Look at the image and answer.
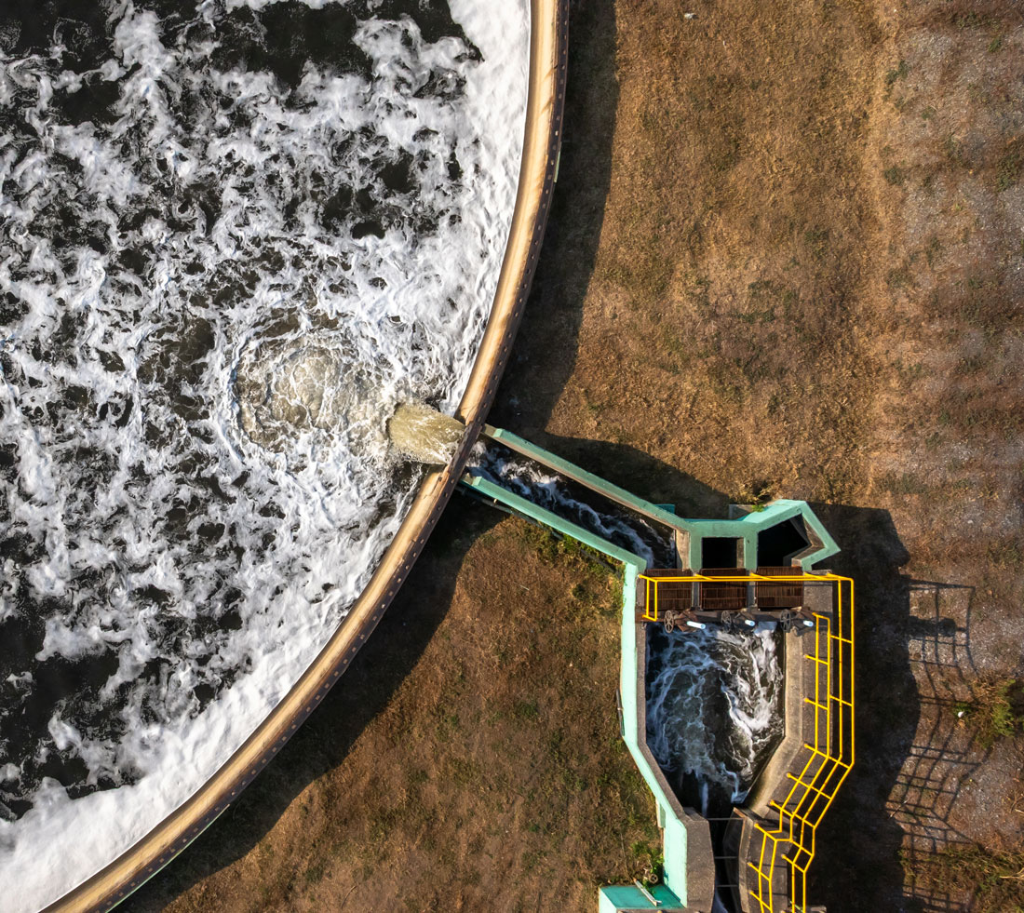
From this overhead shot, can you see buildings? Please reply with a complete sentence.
No, I find no building anywhere in the image.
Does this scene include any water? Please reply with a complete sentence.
Yes, water can be seen from above here.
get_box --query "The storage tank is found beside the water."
[34,0,571,913]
